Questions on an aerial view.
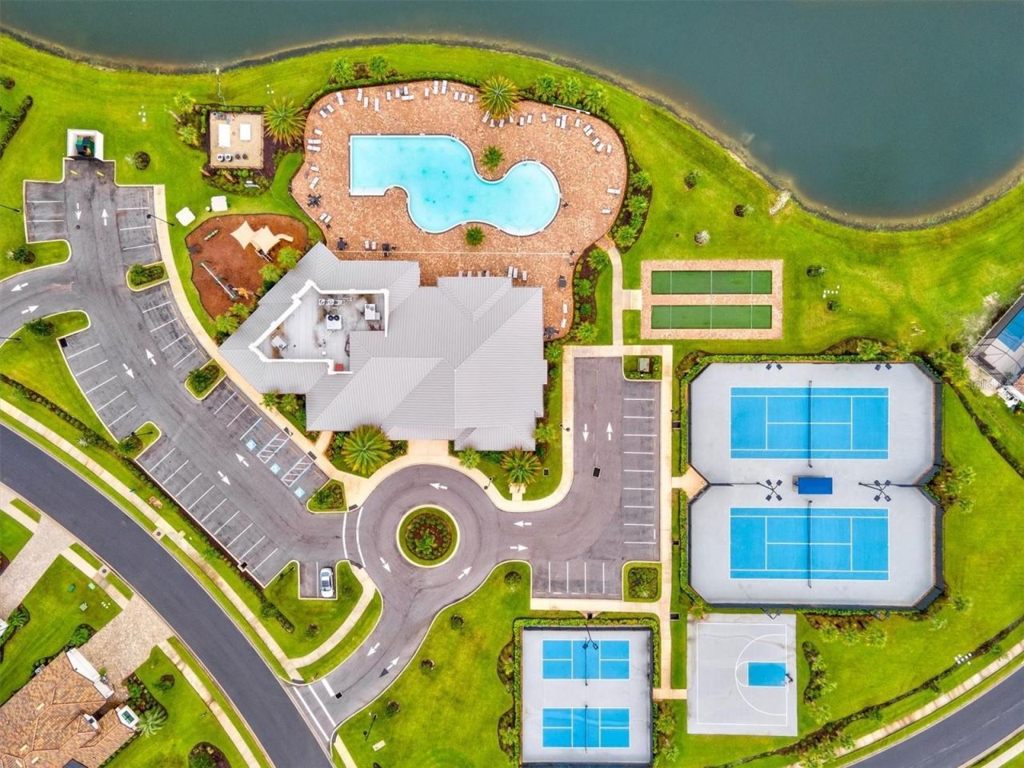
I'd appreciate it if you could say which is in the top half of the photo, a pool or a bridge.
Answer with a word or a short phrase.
pool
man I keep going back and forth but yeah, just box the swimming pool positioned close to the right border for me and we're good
[996,310,1024,353]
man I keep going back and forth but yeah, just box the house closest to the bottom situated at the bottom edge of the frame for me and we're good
[0,650,140,768]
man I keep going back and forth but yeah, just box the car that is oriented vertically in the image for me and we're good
[318,567,333,598]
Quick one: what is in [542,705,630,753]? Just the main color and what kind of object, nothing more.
blue sports court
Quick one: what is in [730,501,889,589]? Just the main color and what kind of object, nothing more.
blue tennis court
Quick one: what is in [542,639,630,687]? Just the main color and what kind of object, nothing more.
blue sports court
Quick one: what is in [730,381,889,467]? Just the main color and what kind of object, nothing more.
blue tennis court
